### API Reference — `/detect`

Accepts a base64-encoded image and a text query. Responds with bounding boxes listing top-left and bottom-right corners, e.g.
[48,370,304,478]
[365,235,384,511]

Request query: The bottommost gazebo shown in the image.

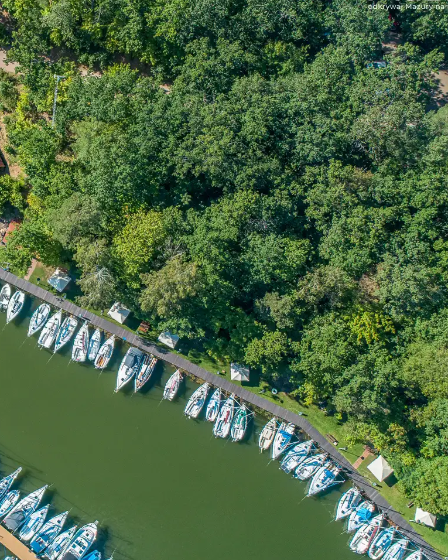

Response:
[411,505,436,529]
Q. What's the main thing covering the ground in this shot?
trees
